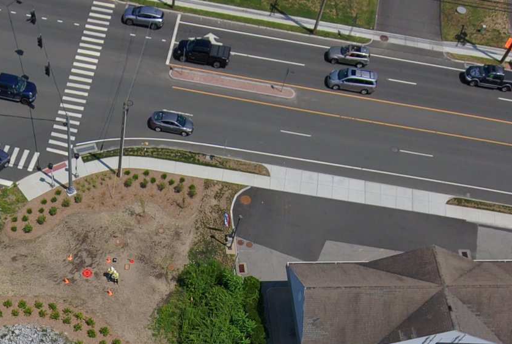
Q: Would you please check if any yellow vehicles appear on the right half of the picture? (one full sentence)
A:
No, there is no yellow vehicle on the right half of the picture.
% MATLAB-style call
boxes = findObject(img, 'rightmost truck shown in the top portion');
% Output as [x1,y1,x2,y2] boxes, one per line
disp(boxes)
[462,63,512,93]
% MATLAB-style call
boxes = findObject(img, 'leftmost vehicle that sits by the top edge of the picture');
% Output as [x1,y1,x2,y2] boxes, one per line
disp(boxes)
[121,5,164,30]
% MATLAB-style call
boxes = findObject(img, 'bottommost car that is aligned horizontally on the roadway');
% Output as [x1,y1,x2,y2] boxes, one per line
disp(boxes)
[147,112,195,139]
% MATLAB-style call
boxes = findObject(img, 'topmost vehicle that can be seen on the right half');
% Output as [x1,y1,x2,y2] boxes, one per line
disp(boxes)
[324,45,371,70]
